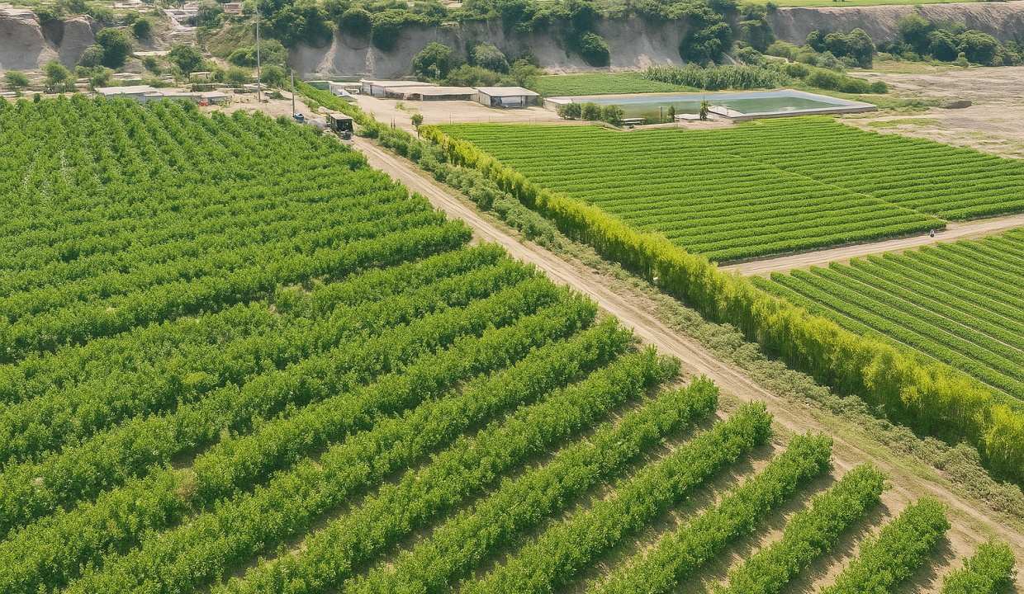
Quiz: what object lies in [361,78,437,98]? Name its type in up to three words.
shed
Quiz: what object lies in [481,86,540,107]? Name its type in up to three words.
shed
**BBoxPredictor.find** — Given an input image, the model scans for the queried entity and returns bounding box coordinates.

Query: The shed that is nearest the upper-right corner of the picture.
[550,95,603,112]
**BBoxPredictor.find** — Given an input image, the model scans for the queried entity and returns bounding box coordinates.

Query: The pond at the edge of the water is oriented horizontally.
[547,89,878,130]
